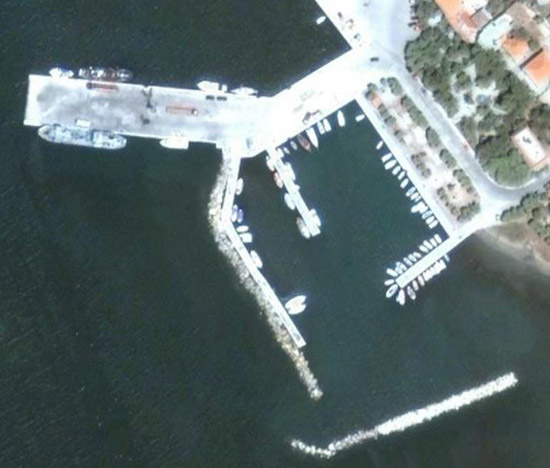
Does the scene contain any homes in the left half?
No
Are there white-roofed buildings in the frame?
Yes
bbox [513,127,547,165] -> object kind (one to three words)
house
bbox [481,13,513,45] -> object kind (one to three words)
house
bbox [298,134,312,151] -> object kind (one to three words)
boat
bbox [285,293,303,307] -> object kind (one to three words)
boat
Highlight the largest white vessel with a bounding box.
[38,128,127,149]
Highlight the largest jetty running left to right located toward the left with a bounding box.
[24,75,258,157]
